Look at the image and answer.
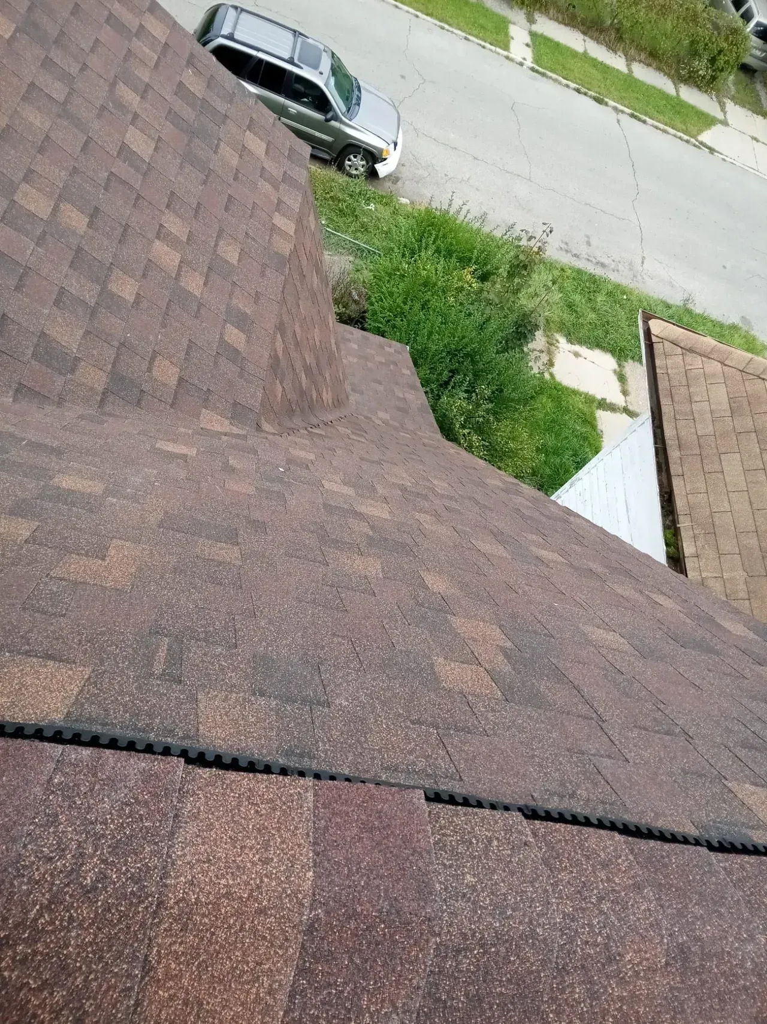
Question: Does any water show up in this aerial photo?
No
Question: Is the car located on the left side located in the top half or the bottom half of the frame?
top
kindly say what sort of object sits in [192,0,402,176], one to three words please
car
